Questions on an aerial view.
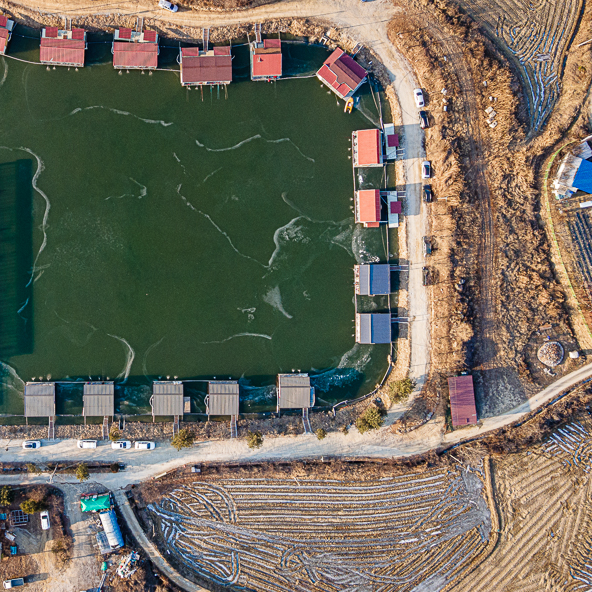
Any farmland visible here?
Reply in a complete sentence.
Yes, some farmland is visible.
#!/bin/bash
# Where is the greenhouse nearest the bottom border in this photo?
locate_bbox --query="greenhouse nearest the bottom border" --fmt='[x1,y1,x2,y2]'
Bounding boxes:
[99,508,124,549]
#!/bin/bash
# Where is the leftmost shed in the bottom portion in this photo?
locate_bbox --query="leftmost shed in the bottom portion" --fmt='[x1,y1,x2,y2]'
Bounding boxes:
[24,380,56,424]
